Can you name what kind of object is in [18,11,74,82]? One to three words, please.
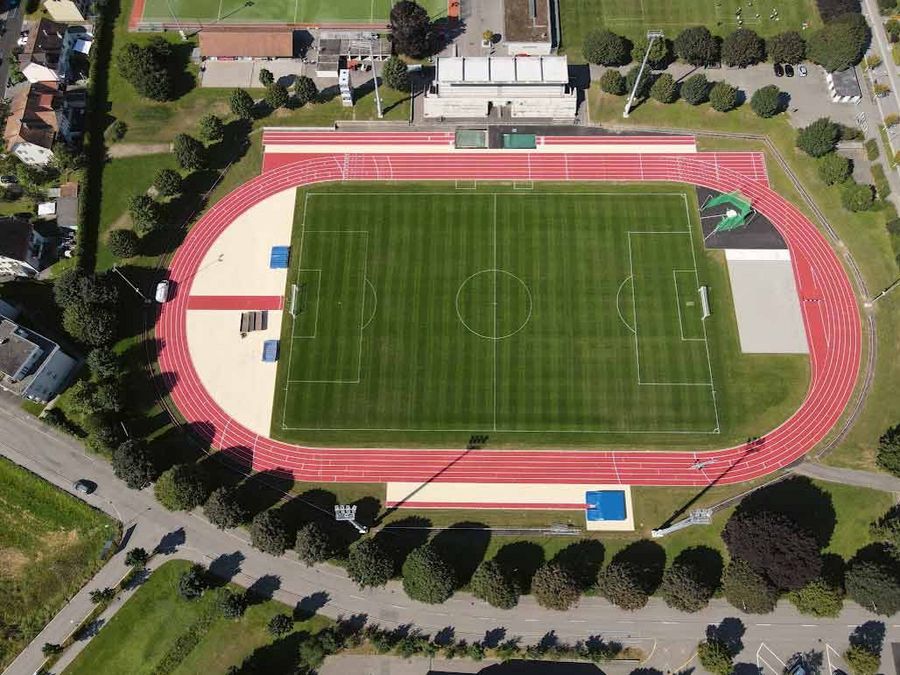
house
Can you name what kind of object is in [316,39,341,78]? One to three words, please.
building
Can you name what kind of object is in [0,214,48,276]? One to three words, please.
house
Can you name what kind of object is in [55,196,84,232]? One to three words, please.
building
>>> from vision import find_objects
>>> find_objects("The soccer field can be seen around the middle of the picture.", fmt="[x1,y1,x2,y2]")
[186,181,813,452]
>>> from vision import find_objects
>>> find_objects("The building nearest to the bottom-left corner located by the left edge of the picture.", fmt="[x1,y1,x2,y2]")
[0,314,77,402]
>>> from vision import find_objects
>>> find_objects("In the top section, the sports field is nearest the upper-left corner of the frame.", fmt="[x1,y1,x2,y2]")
[128,0,448,32]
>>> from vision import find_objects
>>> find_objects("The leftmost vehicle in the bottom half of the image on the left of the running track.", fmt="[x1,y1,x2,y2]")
[74,478,93,494]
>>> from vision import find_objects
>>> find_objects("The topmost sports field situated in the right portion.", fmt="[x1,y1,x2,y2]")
[561,0,817,62]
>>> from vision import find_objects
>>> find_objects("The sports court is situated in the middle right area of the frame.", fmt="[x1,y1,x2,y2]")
[724,250,807,353]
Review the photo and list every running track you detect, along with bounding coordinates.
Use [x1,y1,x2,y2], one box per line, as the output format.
[155,151,862,486]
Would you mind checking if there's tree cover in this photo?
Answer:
Yes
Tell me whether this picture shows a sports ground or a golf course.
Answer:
sports ground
